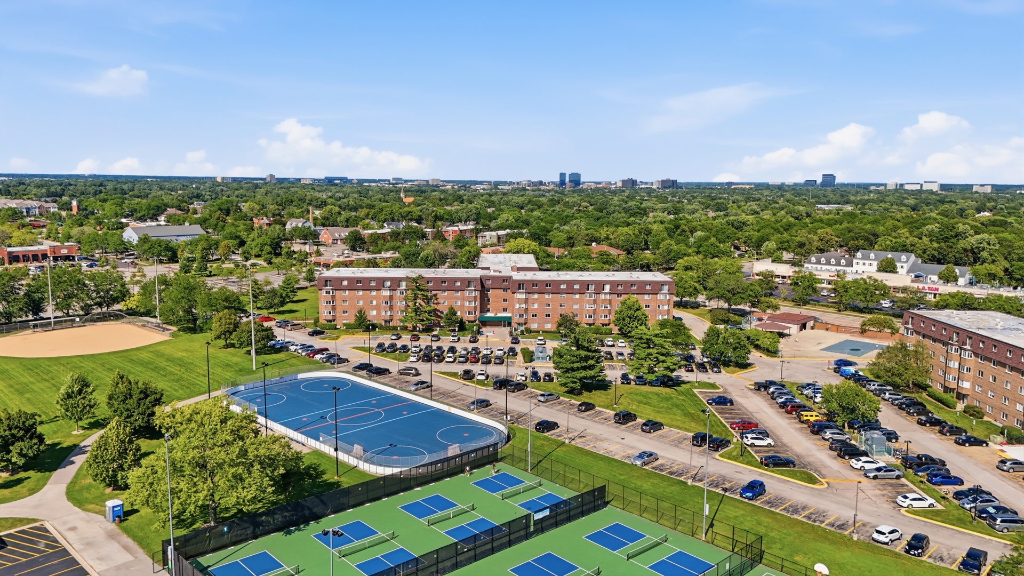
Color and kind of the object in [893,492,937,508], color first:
white car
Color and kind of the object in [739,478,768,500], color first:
blue car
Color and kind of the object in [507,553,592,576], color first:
blue sports court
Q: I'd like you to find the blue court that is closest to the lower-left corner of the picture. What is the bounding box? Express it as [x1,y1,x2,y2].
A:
[209,550,296,576]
